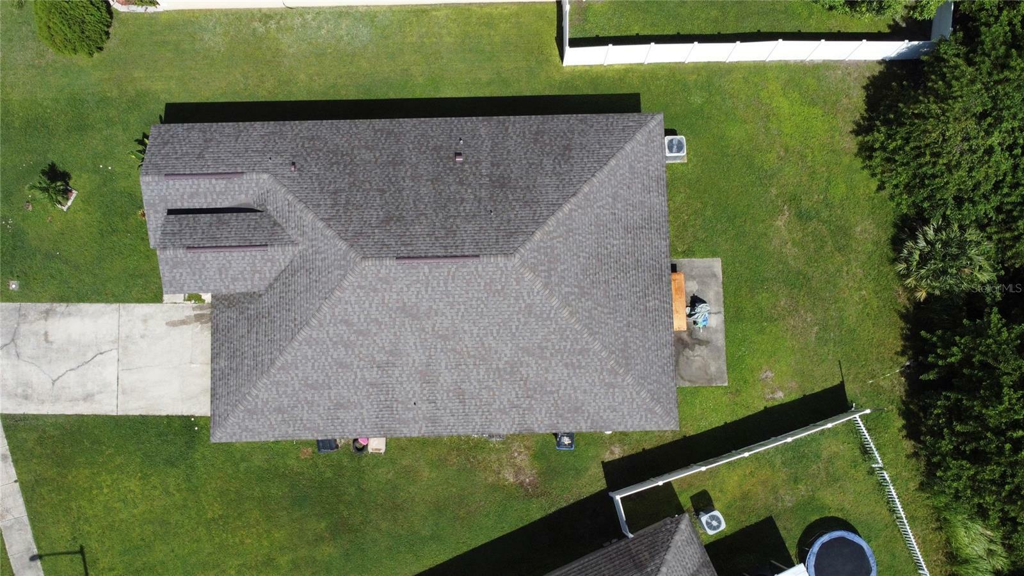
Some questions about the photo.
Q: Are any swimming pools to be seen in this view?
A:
No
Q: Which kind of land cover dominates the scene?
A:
grass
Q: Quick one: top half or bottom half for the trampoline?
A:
bottom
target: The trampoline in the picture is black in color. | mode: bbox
[806,529,877,576]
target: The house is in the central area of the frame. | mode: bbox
[139,114,678,442]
